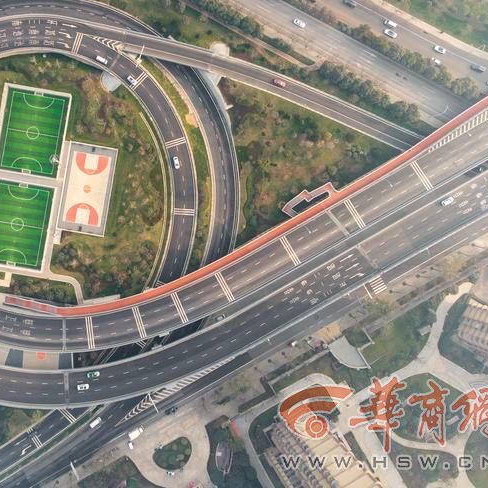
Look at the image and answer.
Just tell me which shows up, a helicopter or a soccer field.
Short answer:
soccer field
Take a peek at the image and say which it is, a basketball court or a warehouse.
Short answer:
basketball court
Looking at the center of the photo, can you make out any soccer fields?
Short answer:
No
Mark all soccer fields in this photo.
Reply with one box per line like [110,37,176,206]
[0,87,69,180]
[0,180,54,270]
